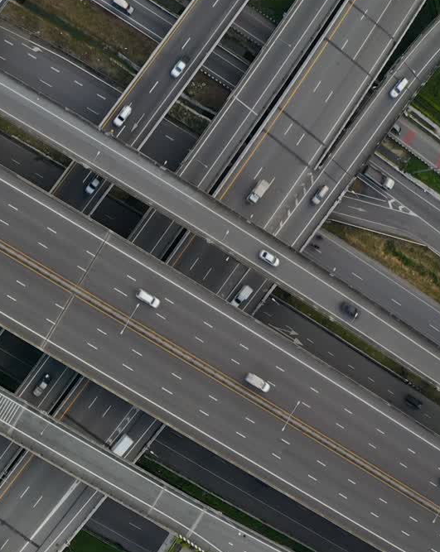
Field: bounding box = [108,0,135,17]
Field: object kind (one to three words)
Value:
vehicle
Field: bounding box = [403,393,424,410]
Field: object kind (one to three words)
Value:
car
